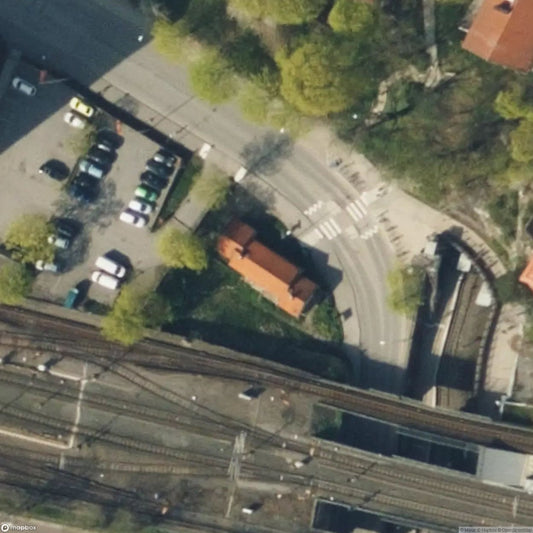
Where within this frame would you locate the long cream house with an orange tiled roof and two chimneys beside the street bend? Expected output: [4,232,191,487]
[214,215,319,316]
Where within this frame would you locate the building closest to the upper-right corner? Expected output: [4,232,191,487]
[461,0,533,75]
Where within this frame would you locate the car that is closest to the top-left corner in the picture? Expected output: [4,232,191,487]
[12,78,36,96]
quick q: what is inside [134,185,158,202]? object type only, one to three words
car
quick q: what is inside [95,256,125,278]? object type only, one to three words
vehicle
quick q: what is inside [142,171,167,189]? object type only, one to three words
car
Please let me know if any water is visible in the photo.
No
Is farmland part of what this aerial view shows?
No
